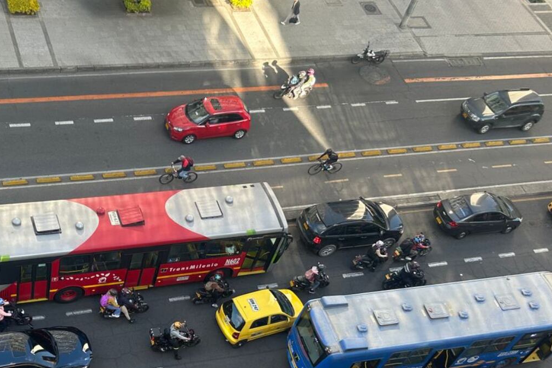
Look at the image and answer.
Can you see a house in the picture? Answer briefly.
No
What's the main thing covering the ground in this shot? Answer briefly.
paved ground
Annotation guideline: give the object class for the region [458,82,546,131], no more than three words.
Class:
car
